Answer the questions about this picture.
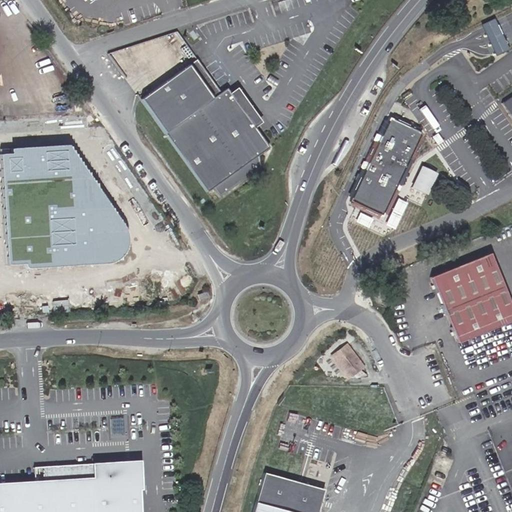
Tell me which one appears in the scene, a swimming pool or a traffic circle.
traffic circle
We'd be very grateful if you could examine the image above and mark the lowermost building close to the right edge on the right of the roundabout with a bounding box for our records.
[433,252,512,343]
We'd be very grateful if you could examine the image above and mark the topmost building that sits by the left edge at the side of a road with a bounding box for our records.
[3,145,131,270]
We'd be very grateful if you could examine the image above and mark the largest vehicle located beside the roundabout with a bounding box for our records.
[272,238,286,255]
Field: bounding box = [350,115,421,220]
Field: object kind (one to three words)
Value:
building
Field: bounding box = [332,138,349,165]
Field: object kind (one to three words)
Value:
vehicle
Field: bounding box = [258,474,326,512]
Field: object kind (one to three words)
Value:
building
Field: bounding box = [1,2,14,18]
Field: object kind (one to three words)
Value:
vehicle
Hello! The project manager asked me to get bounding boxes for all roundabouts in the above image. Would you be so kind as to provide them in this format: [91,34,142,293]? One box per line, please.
[202,254,326,381]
